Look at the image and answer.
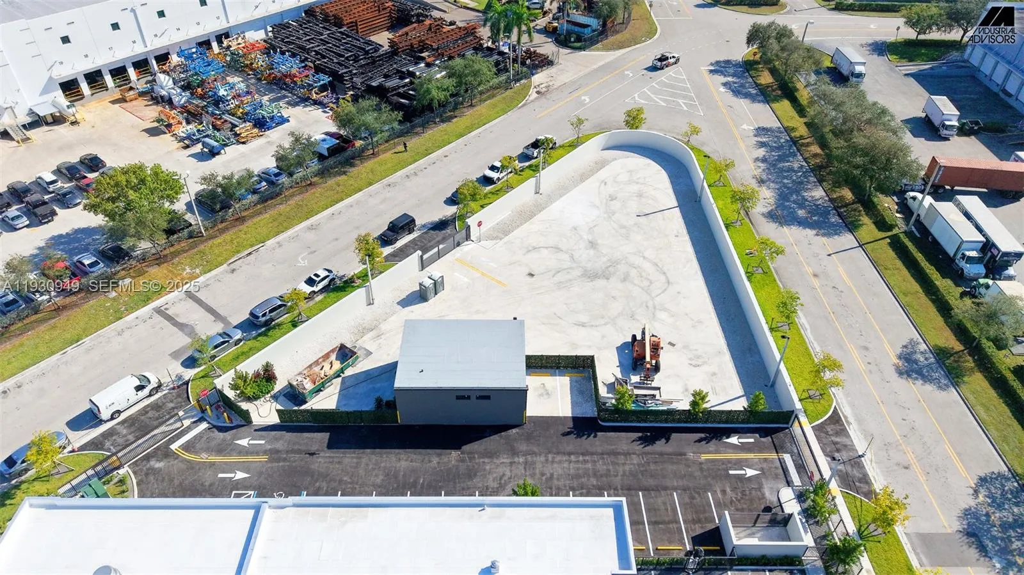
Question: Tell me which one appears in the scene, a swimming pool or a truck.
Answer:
truck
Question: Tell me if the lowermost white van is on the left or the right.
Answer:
left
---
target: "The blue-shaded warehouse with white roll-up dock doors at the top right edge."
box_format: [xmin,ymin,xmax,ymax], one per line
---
[923,2,1024,110]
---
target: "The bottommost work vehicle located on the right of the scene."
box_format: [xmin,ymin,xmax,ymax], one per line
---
[630,324,665,391]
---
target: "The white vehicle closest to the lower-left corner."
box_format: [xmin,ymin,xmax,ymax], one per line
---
[84,371,162,426]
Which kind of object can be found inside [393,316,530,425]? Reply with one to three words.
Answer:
building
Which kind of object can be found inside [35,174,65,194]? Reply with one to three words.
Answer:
car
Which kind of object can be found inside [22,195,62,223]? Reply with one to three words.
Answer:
truck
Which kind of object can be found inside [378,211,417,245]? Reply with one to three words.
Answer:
car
